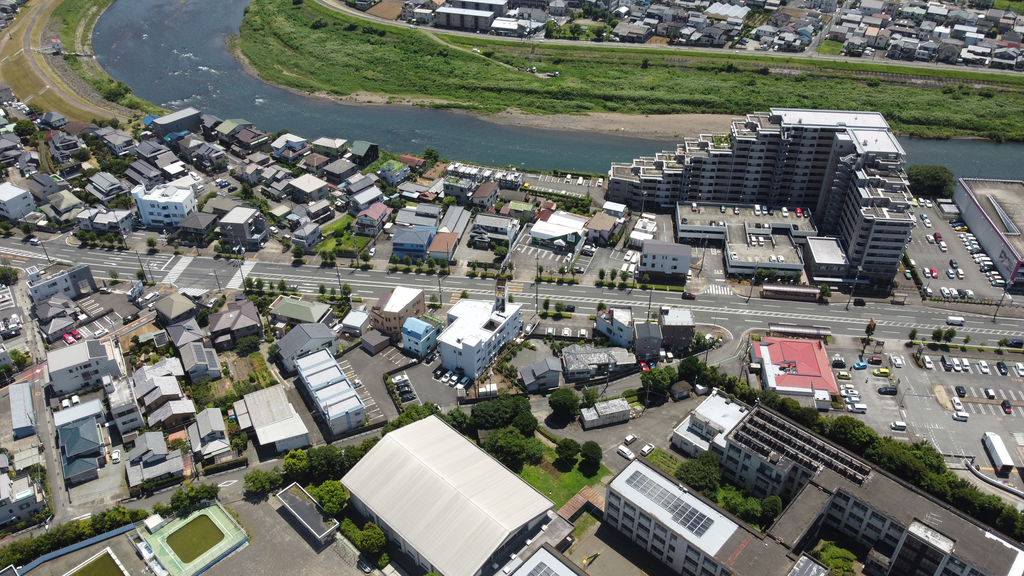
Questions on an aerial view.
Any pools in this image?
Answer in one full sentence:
Yes, there's a pool here.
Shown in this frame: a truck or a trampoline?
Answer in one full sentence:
This aerial view contains a truck.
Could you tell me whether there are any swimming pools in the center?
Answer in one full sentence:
No, I can find no swimming pool in the center.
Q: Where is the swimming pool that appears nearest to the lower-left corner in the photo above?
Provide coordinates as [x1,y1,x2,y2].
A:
[66,545,128,576]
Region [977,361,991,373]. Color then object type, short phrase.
white vehicle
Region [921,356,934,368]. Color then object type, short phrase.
white vehicle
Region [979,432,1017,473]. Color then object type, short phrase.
white truck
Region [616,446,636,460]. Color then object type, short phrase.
white car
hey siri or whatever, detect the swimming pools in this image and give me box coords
[66,545,128,576]
[138,503,248,576]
